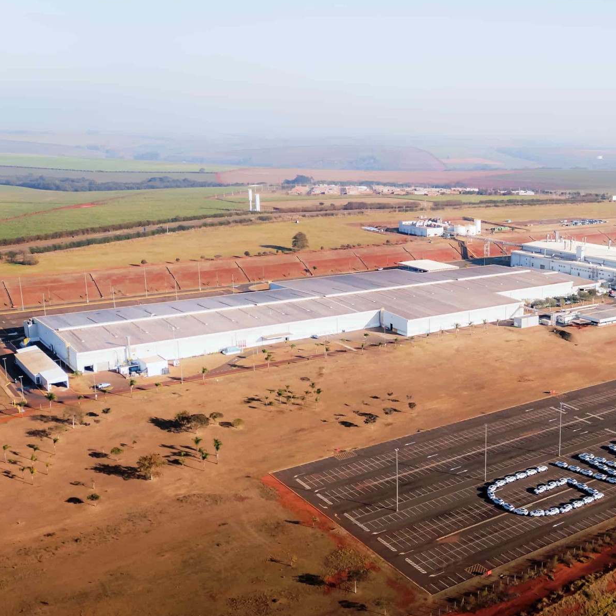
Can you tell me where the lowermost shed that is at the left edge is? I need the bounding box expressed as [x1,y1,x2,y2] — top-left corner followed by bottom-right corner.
[14,346,70,392]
